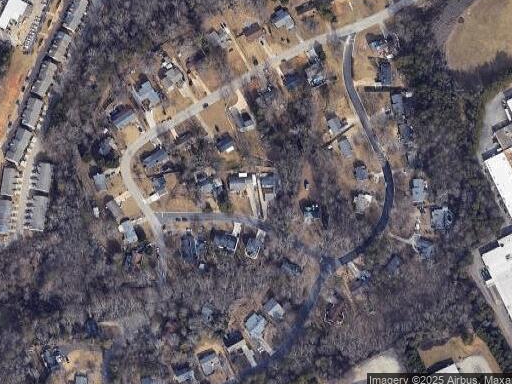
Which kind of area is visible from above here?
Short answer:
residential area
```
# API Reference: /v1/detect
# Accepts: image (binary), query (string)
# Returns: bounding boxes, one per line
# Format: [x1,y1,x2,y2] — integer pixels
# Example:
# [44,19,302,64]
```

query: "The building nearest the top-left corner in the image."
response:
[0,0,28,31]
